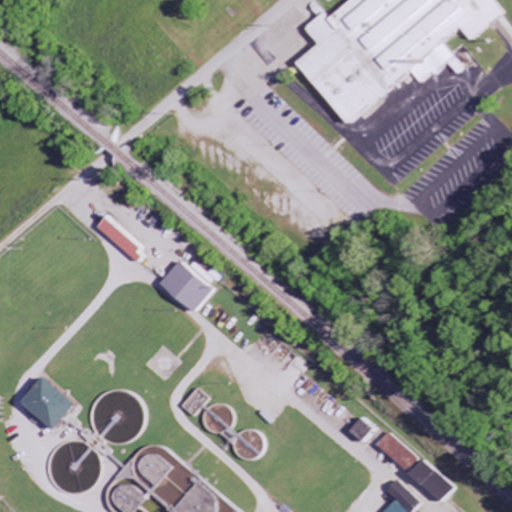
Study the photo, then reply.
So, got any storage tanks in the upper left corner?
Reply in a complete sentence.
No, the scene shows no storage tank in the upper left corner.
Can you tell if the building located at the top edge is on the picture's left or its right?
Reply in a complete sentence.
The building located at the top edge appears in the right half of the scene.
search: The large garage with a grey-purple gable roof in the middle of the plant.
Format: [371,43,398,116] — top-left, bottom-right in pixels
[161,264,214,310]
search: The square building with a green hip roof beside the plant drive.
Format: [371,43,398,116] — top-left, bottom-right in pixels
[20,378,75,428]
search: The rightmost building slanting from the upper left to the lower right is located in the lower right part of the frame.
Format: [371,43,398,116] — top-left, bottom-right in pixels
[406,462,452,502]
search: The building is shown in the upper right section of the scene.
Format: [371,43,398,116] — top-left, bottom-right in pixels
[295,0,506,124]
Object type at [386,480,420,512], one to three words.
shed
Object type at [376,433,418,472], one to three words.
building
